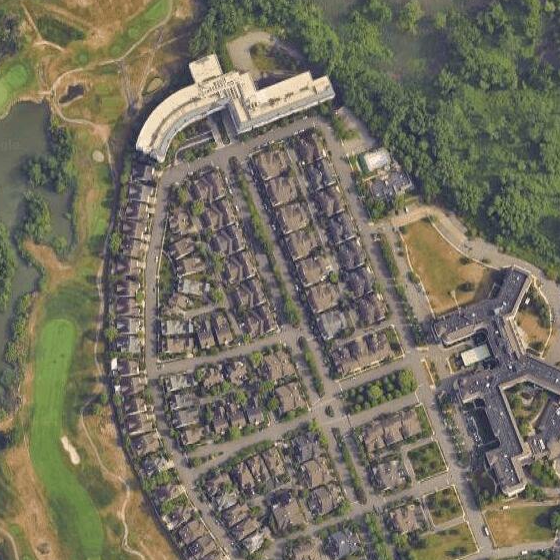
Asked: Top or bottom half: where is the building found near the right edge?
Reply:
bottom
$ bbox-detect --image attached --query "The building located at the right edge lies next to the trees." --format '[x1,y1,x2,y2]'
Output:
[433,267,560,493]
